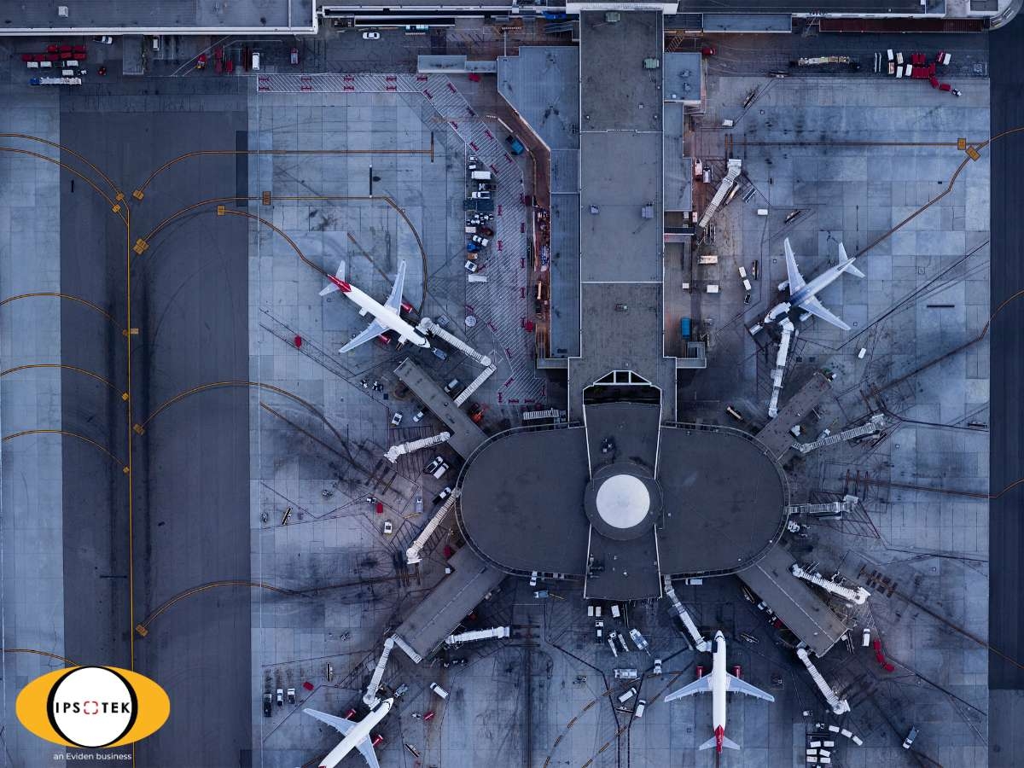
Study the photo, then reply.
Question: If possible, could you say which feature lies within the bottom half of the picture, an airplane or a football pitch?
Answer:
airplane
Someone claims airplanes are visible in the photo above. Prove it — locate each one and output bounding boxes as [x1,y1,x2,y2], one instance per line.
[298,698,393,768]
[322,260,430,353]
[664,631,775,757]
[765,238,862,331]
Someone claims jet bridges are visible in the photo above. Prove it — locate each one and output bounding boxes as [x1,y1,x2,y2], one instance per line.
[791,412,886,453]
[384,430,451,465]
[793,646,849,713]
[786,495,857,516]
[790,564,870,602]
[363,635,395,711]
[766,308,795,418]
[406,487,461,560]
[695,158,742,229]
[663,577,718,650]
[413,319,493,367]
[443,624,512,646]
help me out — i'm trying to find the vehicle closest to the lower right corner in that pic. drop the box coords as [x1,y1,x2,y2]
[905,727,919,748]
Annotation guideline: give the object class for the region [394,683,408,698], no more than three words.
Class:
work vehicle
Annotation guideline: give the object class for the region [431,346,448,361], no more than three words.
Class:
work vehicle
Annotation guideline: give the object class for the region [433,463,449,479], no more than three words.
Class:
vehicle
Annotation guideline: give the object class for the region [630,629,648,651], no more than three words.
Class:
vehicle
